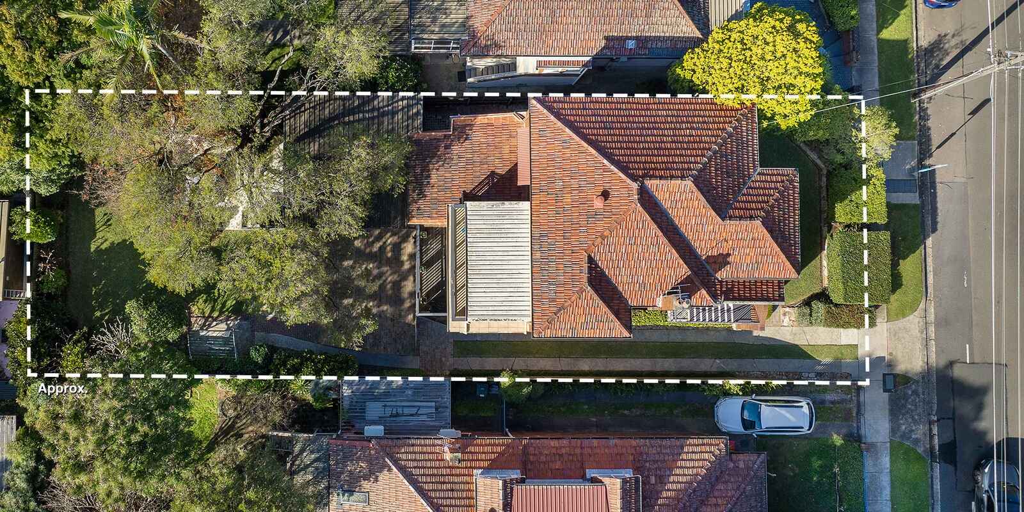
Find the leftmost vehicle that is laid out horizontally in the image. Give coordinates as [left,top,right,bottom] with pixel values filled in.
[713,392,814,441]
